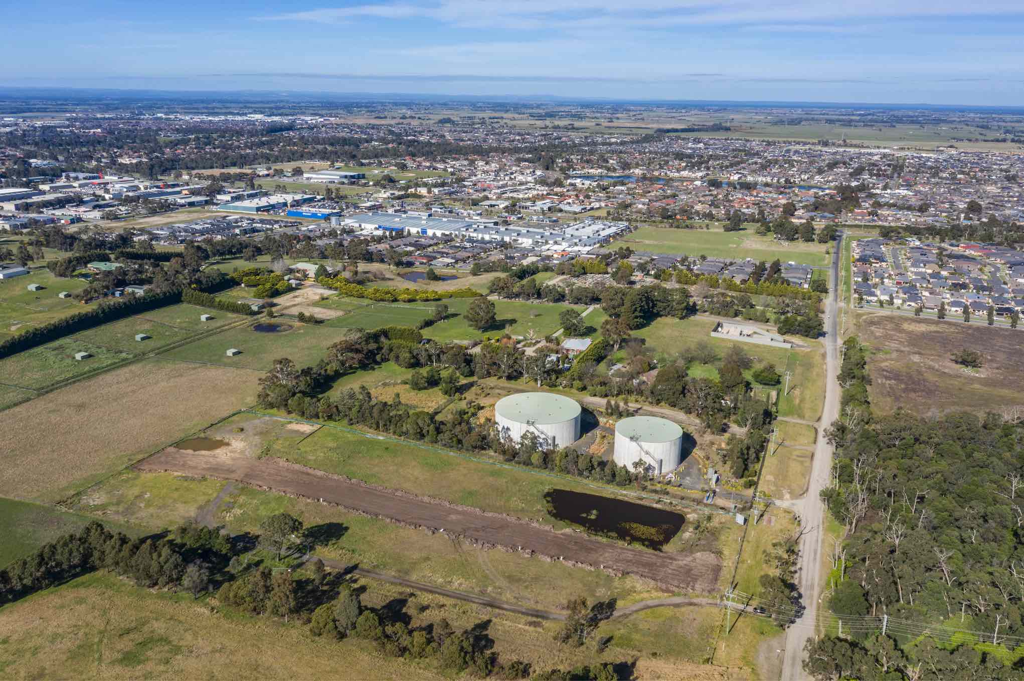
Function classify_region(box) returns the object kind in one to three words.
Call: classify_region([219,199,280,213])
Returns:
building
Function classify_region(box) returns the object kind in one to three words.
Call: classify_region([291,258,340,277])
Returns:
house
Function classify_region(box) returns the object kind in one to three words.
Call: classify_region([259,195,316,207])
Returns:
building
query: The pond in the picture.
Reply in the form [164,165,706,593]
[546,489,685,552]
